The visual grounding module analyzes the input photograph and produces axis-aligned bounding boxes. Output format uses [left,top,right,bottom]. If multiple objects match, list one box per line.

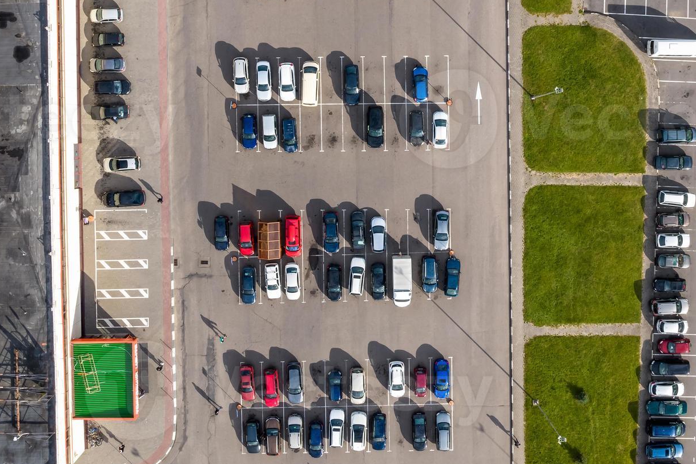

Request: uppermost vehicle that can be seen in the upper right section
[646,38,696,57]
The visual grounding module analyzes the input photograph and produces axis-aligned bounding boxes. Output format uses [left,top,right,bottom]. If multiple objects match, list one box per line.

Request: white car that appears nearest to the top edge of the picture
[90,7,123,24]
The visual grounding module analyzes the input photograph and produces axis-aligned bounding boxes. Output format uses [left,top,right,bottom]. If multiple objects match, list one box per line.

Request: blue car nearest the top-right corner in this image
[658,125,696,144]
